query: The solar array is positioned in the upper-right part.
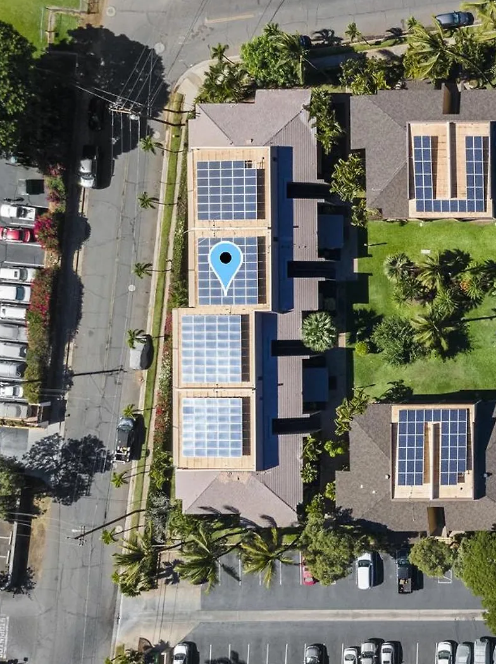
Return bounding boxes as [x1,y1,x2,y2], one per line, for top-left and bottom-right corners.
[414,136,484,212]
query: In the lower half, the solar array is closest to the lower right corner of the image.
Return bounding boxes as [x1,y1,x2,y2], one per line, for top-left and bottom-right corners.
[399,410,468,485]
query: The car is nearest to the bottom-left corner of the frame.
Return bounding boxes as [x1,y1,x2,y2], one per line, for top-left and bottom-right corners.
[173,640,193,664]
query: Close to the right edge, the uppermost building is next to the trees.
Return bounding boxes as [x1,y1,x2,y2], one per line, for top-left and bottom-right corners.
[352,79,496,224]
